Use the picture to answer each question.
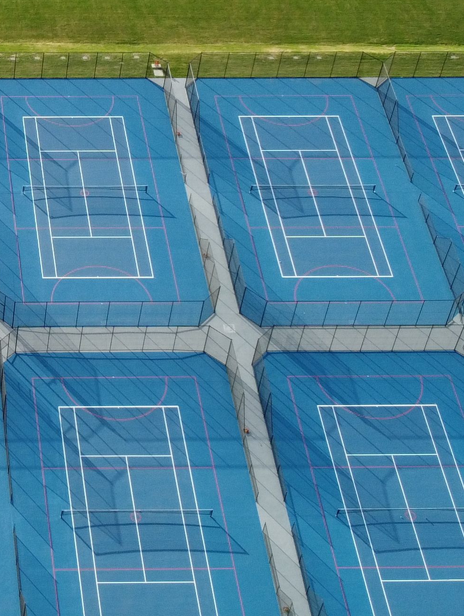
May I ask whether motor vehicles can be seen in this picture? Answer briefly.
No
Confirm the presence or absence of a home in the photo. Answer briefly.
No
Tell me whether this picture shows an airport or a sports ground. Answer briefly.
sports ground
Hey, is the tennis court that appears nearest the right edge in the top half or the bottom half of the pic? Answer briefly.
top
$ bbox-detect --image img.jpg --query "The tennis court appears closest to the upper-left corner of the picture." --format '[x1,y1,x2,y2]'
[0,78,212,326]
